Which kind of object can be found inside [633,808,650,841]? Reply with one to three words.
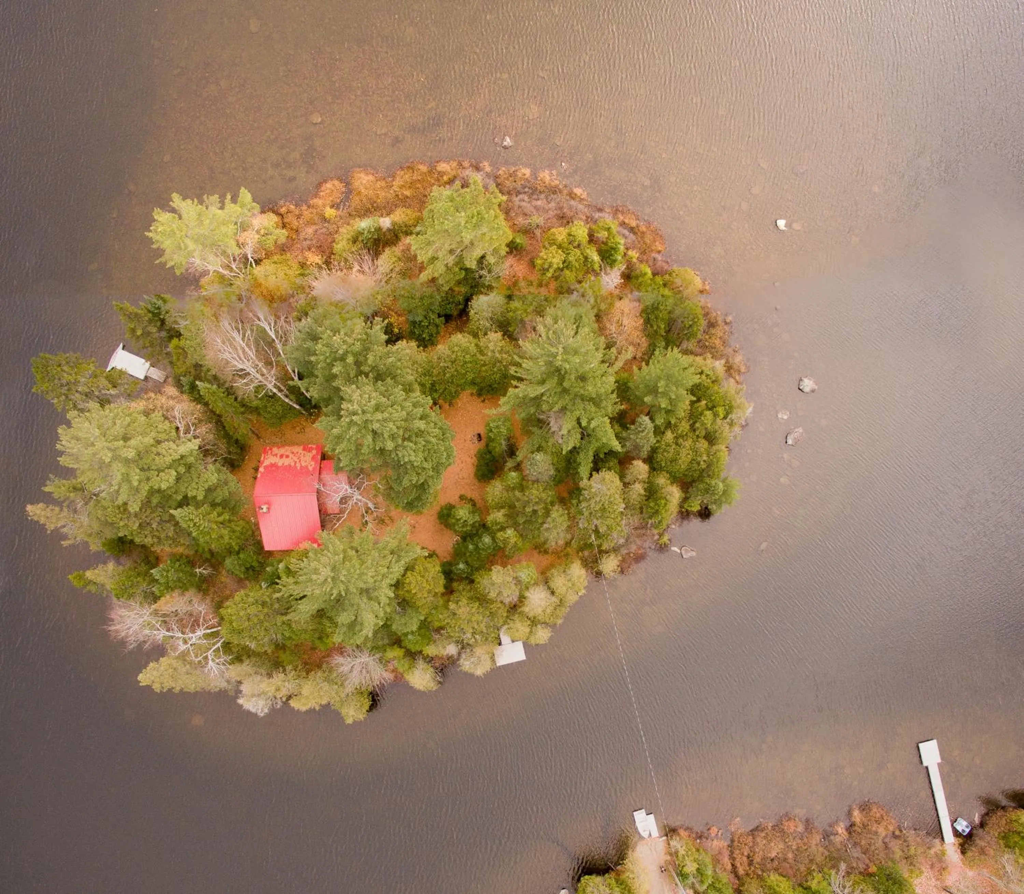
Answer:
boat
